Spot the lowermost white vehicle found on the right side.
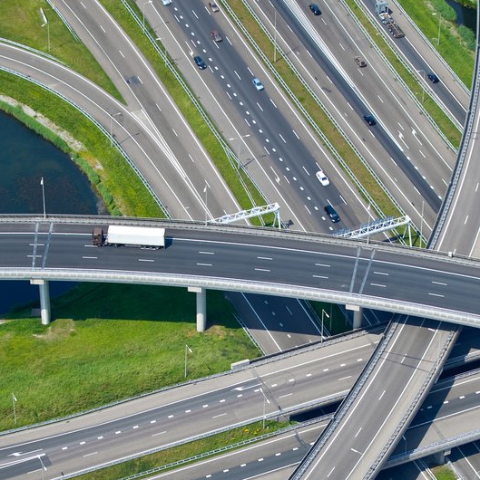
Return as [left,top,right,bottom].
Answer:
[315,172,329,184]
